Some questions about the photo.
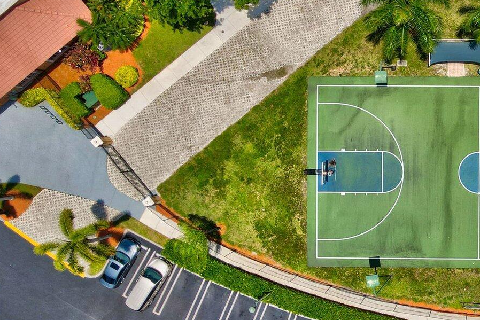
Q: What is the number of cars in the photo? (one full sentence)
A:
In total, there are 2 cars in the scene.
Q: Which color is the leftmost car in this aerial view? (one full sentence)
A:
The leftmost car is blue.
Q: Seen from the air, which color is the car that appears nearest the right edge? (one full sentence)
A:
The car that appears nearest the right edge is white.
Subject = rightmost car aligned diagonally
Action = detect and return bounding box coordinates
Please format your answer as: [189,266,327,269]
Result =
[123,255,174,315]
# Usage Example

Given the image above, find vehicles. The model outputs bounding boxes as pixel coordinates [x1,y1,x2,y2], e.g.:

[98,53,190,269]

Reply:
[99,234,142,290]
[123,255,174,315]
